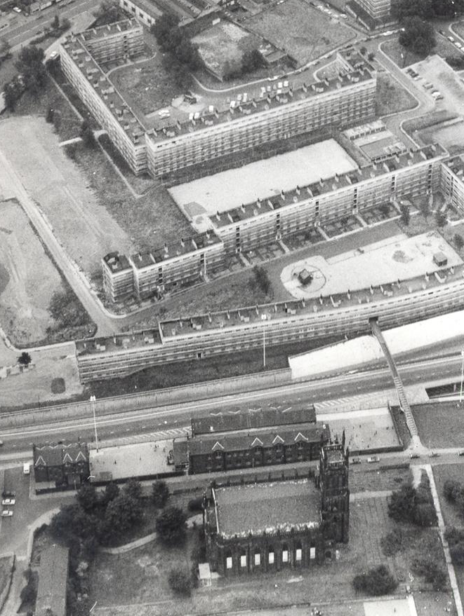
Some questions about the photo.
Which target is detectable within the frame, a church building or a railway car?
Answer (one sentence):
The image shows a church building.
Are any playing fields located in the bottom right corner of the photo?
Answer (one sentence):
No, in the bottom right corner of the photo there is no playing field.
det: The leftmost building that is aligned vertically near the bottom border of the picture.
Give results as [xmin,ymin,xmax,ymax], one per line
[38,541,80,616]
